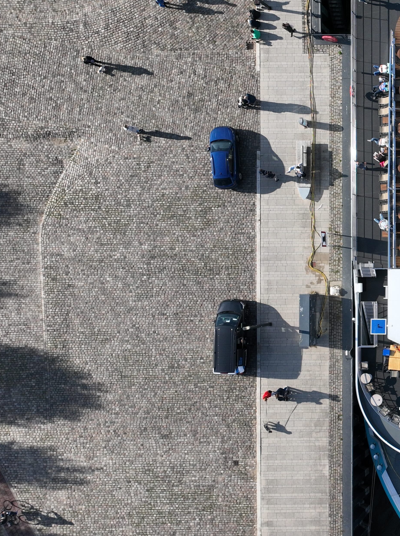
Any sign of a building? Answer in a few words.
No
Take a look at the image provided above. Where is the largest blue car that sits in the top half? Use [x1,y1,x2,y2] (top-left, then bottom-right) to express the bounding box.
[206,129,244,193]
